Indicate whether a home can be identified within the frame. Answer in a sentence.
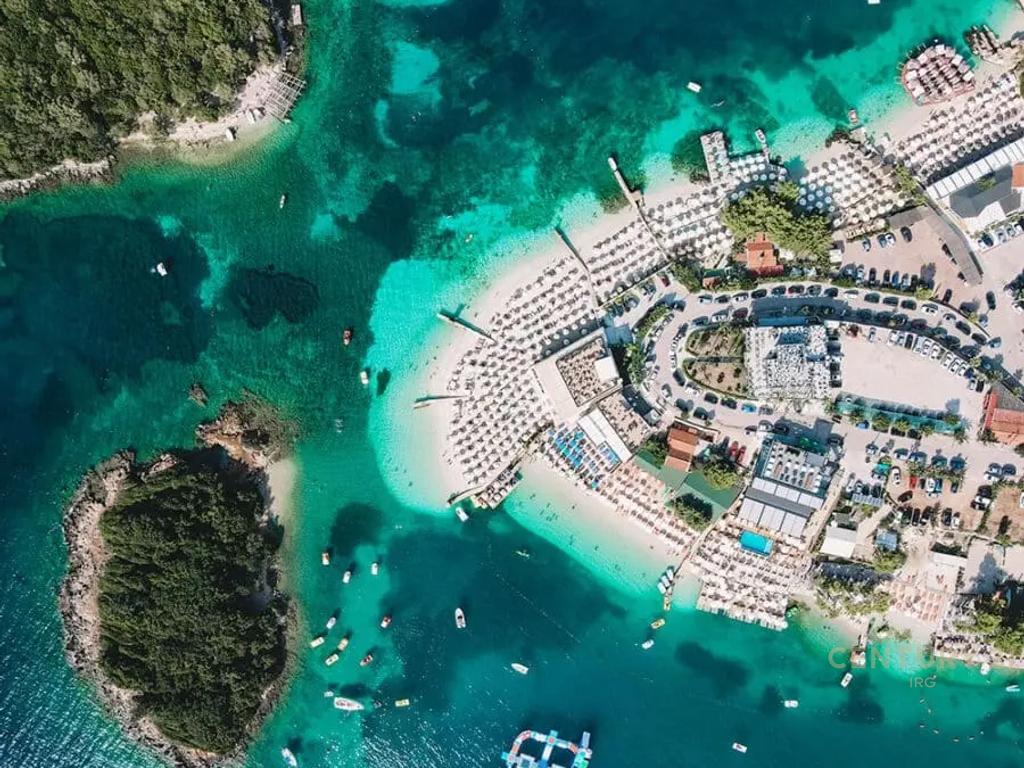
Yes, a home is visible in the scene.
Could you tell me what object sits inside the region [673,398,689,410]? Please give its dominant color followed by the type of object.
black vehicle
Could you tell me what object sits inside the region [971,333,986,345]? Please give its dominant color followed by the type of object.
black vehicle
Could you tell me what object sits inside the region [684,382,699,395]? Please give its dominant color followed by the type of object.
white vehicle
